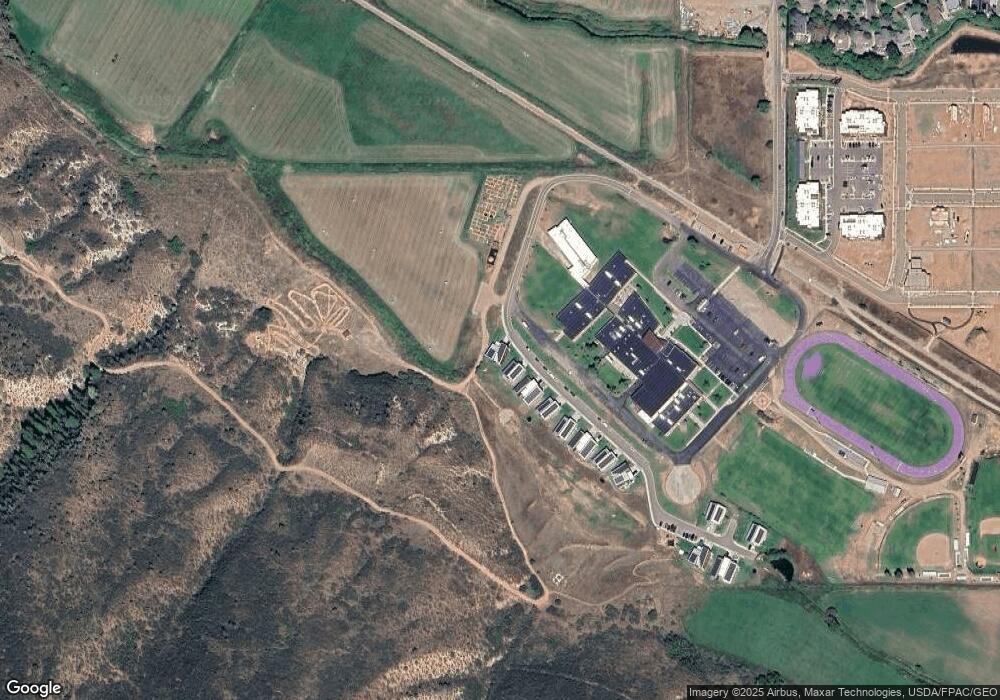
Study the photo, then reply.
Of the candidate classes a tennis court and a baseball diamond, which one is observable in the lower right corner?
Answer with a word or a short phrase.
baseball diamond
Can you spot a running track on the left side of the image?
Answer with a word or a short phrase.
No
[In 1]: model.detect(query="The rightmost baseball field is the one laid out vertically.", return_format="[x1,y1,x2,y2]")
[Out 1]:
[966,451,1000,572]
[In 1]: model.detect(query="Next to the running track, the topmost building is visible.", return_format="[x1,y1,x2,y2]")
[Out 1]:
[556,250,701,434]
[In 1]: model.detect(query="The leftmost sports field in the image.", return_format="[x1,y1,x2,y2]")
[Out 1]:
[719,421,869,556]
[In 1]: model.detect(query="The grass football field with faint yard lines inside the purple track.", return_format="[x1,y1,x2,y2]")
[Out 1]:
[796,343,953,465]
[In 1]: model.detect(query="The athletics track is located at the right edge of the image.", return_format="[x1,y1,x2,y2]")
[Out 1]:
[783,330,964,476]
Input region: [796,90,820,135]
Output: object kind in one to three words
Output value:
building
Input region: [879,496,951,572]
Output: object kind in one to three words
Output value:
baseball field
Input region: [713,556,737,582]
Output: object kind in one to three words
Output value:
house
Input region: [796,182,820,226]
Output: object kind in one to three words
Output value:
building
